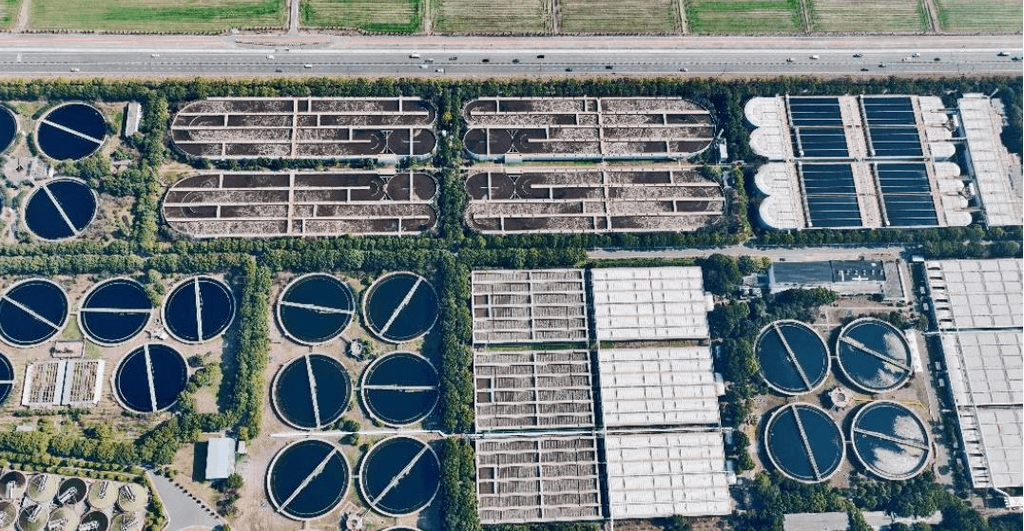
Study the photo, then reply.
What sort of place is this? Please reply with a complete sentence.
The picture captures an industrial area.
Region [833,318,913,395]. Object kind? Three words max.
storage tank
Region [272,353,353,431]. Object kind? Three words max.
storage tank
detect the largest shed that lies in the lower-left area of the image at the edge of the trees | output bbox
[206,438,237,480]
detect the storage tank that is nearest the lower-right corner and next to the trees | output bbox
[849,400,932,482]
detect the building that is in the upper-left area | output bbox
[125,102,141,139]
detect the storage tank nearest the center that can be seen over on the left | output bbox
[363,271,440,345]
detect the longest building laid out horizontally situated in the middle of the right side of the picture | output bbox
[767,261,886,296]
